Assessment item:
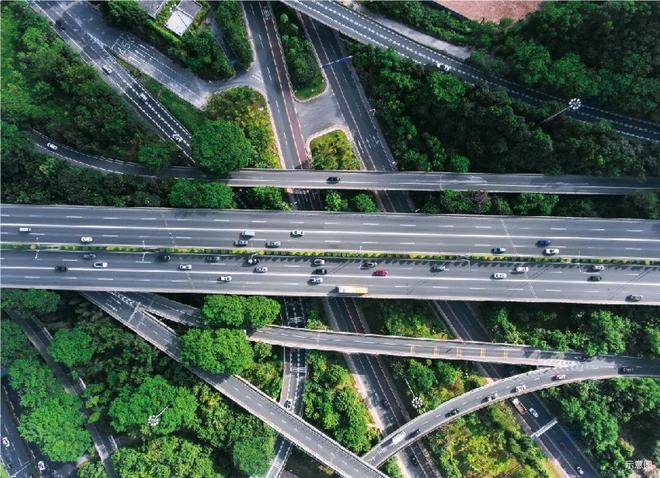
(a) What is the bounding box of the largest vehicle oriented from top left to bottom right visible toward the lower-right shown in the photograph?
[511,396,528,416]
